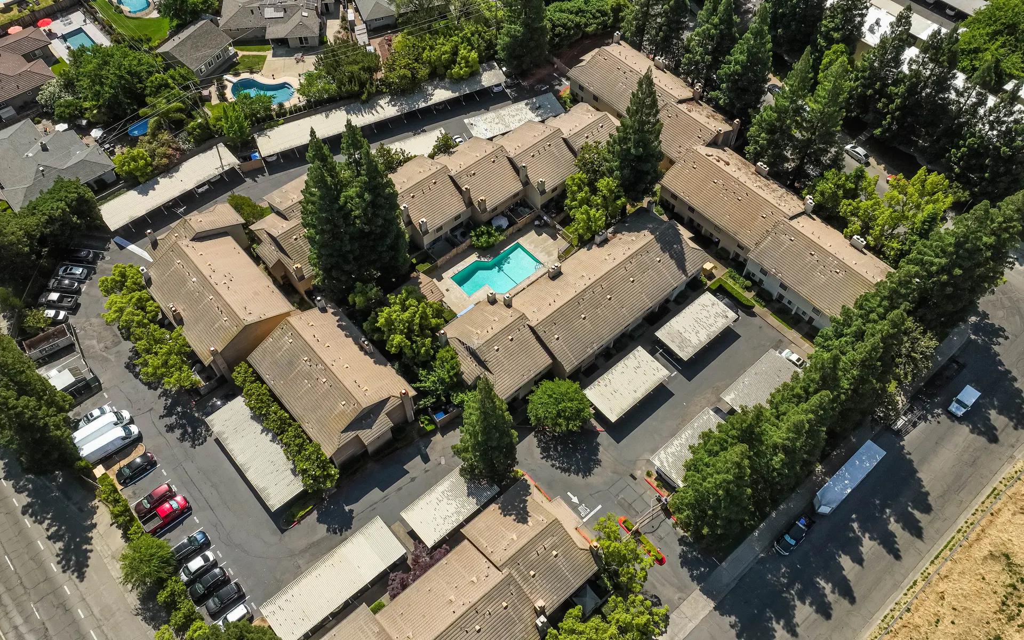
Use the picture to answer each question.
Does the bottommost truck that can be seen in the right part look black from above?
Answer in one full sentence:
Yes, the bottommost truck that can be seen in the right part appears black.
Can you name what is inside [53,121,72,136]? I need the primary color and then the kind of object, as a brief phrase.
white umbrella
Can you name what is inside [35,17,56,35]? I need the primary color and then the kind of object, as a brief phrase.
red umbrella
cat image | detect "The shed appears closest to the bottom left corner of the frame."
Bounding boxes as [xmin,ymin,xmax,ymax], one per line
[39,362,96,402]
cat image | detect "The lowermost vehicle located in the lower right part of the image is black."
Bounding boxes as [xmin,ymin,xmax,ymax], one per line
[771,511,817,558]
